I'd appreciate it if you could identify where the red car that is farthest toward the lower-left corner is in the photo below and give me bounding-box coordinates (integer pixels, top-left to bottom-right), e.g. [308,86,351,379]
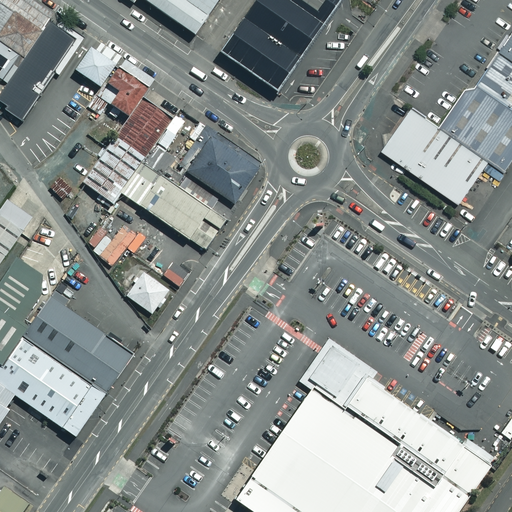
[74,271,90,284]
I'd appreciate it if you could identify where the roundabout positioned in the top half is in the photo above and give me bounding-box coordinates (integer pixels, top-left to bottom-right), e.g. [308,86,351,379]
[288,134,330,178]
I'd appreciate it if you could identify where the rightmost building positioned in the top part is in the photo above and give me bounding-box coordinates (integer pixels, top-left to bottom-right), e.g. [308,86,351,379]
[438,30,512,173]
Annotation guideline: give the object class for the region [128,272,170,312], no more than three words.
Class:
house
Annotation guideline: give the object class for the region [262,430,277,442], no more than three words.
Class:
vehicle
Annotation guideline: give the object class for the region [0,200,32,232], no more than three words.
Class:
shed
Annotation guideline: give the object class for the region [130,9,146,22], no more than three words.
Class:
vehicle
